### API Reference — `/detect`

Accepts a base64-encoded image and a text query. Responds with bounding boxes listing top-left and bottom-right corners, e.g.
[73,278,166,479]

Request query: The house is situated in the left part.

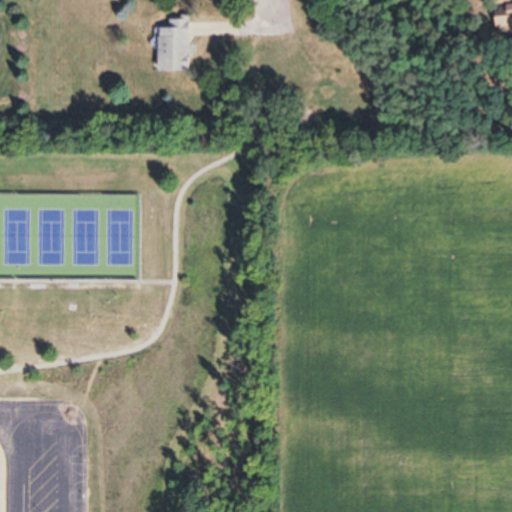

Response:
[155,13,190,70]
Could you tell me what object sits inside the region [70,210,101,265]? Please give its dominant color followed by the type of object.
blue tennis court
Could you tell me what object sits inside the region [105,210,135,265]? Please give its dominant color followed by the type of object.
blue tennis court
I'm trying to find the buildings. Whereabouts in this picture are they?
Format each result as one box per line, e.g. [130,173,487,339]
[496,2,512,30]
[155,13,190,70]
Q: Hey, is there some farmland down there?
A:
Yes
